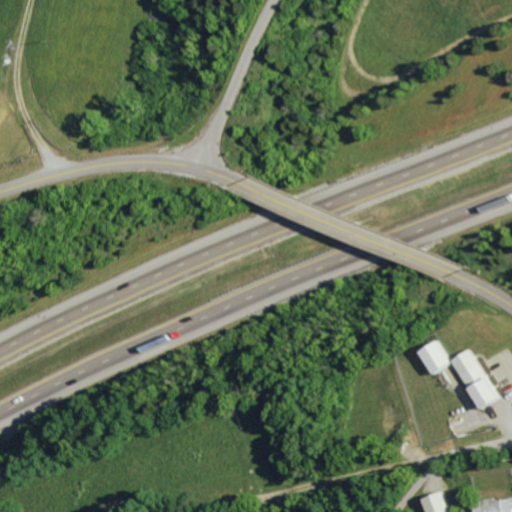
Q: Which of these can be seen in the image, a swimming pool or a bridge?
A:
bridge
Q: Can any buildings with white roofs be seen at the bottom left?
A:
No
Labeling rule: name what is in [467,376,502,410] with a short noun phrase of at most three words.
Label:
house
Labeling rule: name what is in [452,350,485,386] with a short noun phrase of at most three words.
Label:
house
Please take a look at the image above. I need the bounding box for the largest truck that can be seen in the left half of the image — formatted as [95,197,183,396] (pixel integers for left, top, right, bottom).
[136,330,180,354]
